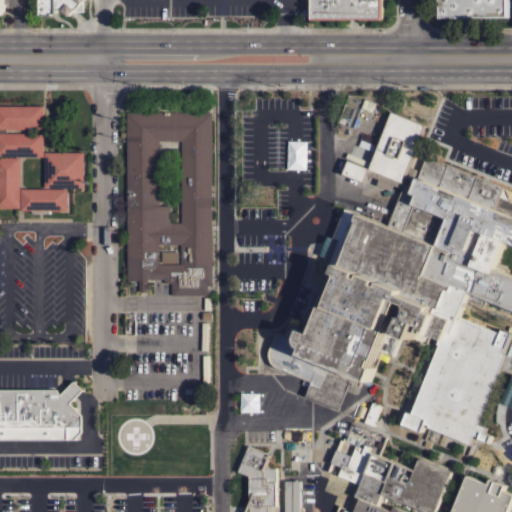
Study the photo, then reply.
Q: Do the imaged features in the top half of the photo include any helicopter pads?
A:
No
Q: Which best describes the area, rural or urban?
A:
urban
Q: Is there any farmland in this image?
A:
No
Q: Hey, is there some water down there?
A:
No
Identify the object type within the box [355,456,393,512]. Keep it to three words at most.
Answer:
building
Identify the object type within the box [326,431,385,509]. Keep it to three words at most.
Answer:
building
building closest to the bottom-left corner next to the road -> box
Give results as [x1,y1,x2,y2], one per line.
[0,382,87,442]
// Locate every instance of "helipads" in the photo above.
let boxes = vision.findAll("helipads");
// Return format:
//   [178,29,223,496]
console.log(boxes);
[118,418,154,455]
